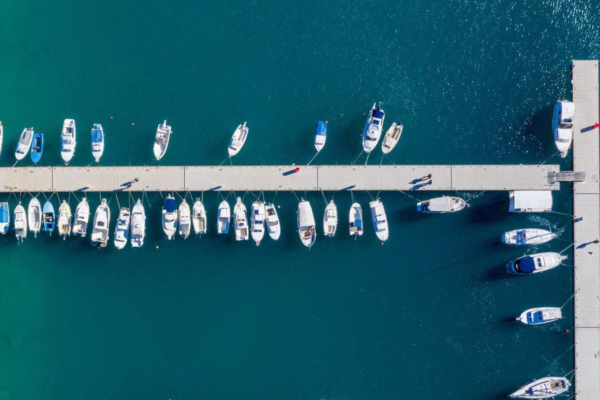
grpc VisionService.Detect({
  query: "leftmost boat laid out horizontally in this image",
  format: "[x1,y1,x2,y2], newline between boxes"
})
[396,190,483,214]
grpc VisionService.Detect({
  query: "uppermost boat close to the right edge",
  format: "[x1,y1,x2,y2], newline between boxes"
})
[544,98,577,165]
